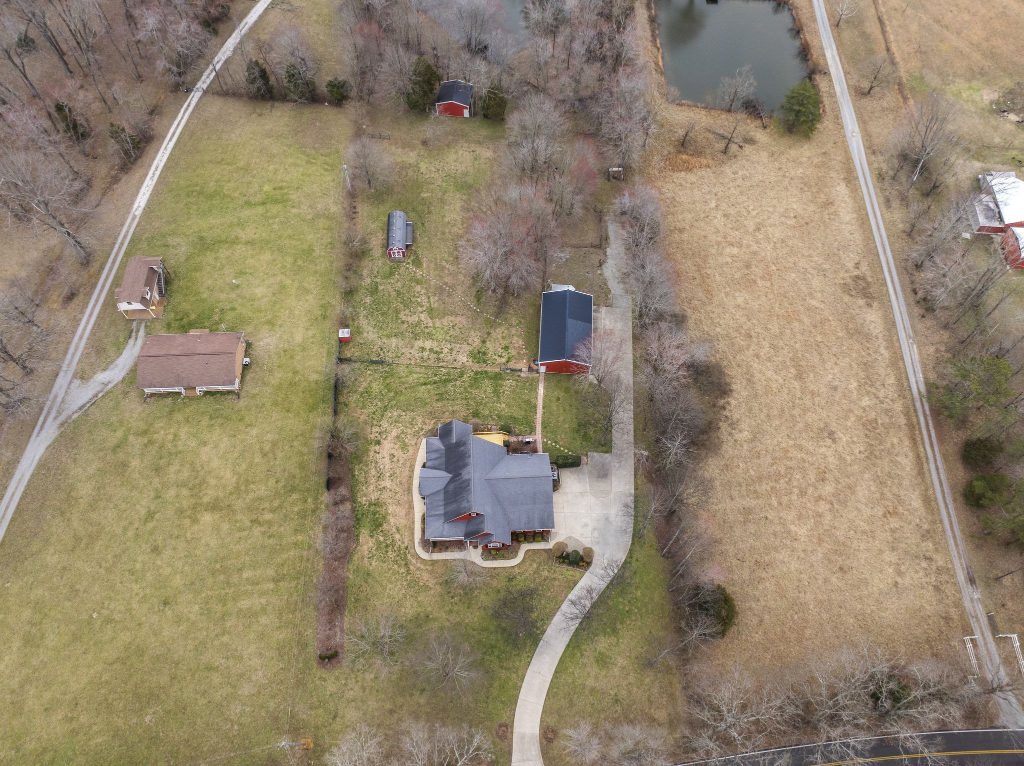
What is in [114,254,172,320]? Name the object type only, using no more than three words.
building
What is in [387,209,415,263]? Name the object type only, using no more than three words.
shed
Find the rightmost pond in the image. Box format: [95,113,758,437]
[651,0,813,124]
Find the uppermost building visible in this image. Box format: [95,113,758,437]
[432,76,473,117]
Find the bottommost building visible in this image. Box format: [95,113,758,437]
[417,419,555,553]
